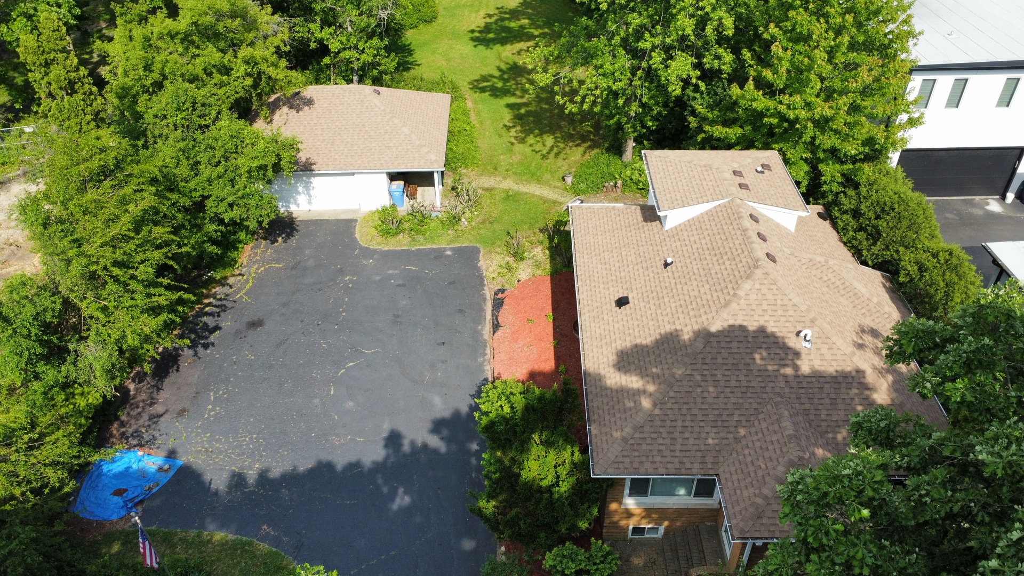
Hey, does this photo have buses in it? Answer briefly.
No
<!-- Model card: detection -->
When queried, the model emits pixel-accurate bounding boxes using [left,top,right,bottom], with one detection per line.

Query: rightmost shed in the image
[981,244,1024,339]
